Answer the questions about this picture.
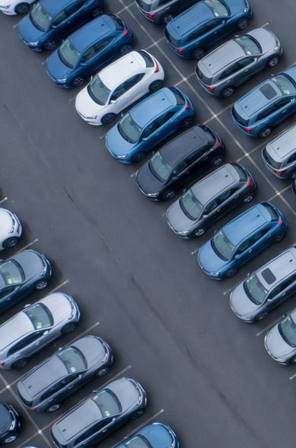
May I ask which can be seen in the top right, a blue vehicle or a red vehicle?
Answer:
blue vehicle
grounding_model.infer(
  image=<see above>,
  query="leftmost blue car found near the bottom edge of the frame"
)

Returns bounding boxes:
[0,400,27,448]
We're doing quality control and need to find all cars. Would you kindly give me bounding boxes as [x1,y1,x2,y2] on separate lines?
[163,0,253,62]
[259,125,296,182]
[0,400,27,448]
[199,202,289,279]
[166,163,258,239]
[193,29,284,100]
[133,0,201,26]
[0,207,25,254]
[107,88,196,162]
[18,0,107,50]
[0,250,56,317]
[229,245,296,322]
[264,308,296,364]
[46,376,151,448]
[46,14,137,87]
[228,68,296,139]
[76,50,166,124]
[115,422,183,448]
[12,334,116,417]
[137,125,227,200]
[0,292,84,374]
